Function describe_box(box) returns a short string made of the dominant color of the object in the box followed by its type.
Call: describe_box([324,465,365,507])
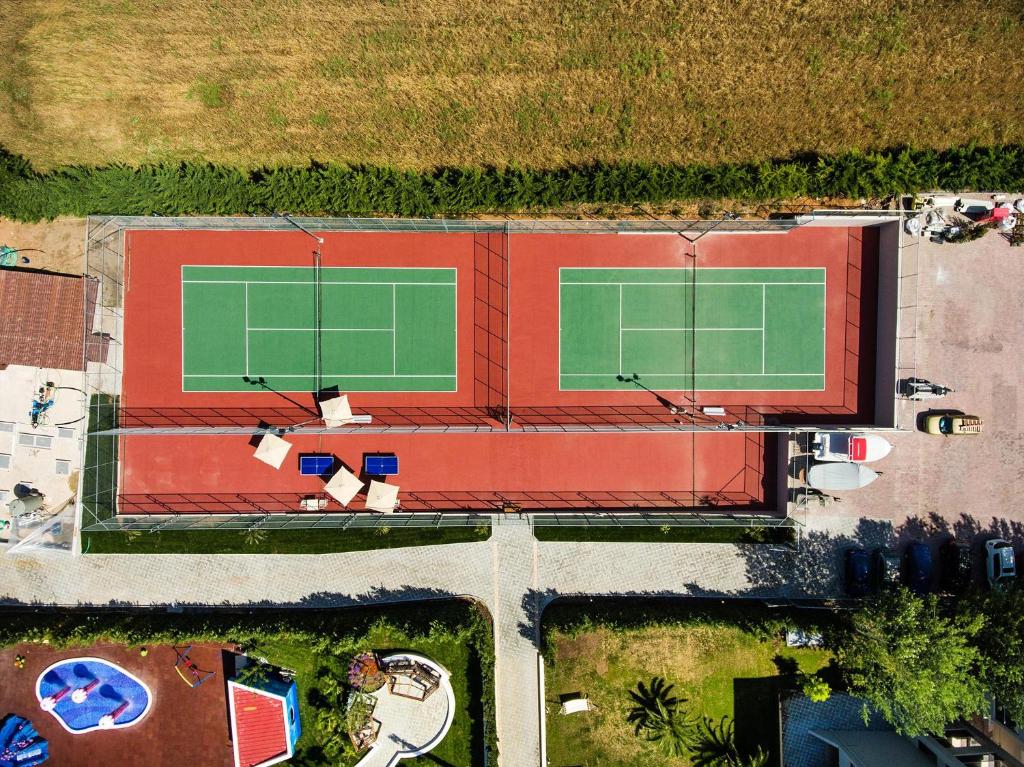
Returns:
white umbrella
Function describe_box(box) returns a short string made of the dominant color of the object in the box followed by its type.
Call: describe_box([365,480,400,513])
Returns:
white umbrella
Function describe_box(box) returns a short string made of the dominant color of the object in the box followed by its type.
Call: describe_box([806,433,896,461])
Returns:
white boat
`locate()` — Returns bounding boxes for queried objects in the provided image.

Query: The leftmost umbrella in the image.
[253,433,293,470]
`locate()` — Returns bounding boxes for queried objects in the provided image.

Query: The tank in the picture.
[9,493,50,515]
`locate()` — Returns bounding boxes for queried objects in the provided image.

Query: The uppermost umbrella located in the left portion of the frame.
[319,394,353,429]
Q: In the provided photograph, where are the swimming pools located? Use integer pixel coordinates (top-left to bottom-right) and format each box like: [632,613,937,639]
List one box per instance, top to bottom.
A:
[35,656,154,734]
